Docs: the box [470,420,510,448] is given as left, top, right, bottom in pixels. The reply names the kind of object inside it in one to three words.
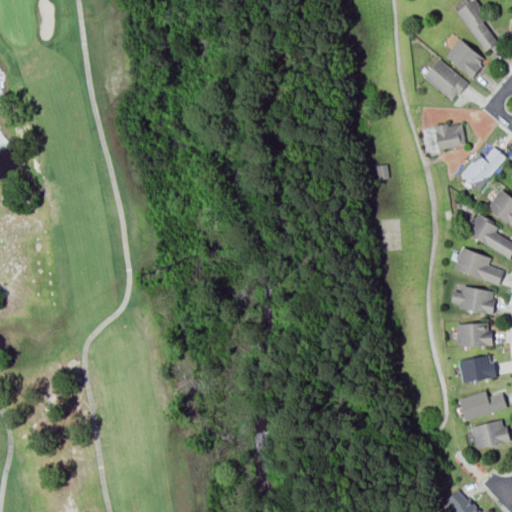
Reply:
house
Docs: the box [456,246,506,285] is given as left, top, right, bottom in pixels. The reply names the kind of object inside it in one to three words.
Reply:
house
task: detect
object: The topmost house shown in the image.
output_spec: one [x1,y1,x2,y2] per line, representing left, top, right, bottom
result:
[452,0,498,52]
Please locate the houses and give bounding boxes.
[460,358,499,384]
[452,0,498,52]
[425,58,470,101]
[458,392,510,422]
[446,38,488,78]
[456,246,506,285]
[458,323,494,347]
[442,489,480,512]
[488,190,512,232]
[470,214,512,261]
[450,286,496,316]
[470,420,510,448]
[459,149,508,188]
